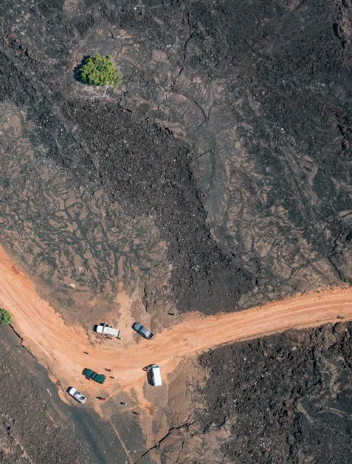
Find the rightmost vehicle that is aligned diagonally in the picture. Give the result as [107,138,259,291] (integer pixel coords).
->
[133,321,156,340]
